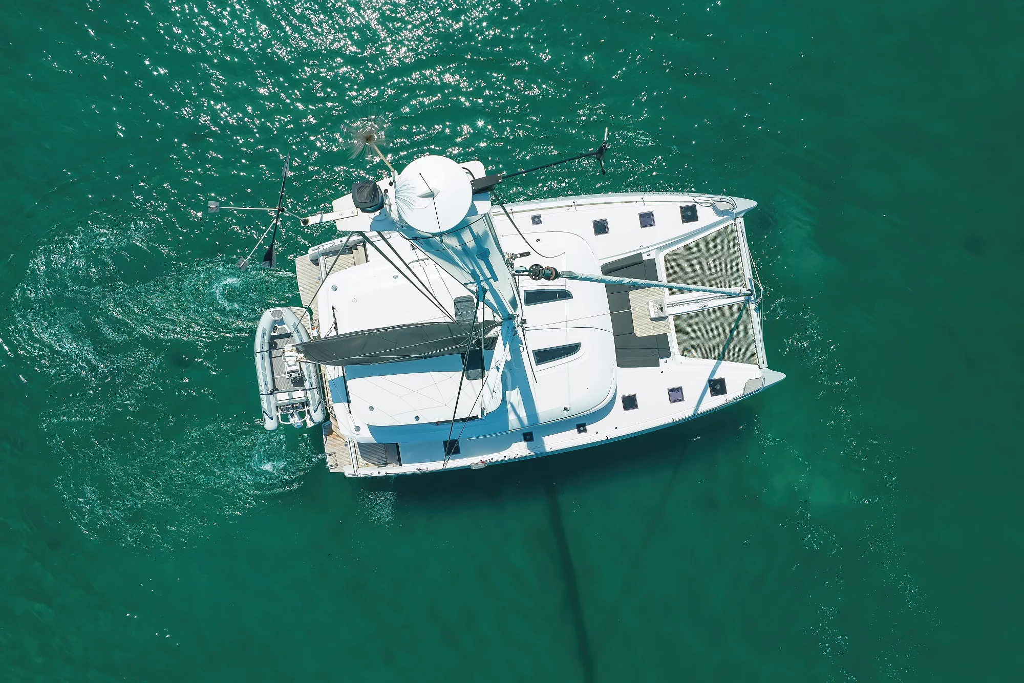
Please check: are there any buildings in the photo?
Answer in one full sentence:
No, I can't see a single building in this photo.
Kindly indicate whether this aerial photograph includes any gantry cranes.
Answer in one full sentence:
No, this view has no gantry crane in it.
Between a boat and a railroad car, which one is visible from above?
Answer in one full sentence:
Of the two, only a boat appears.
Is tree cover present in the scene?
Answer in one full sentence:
No, the picture contains no tree cover.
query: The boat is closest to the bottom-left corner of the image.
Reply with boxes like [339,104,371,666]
[253,305,324,429]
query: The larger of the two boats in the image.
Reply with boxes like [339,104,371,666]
[208,114,785,478]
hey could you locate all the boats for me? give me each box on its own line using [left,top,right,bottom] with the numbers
[208,114,785,478]
[253,305,324,429]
